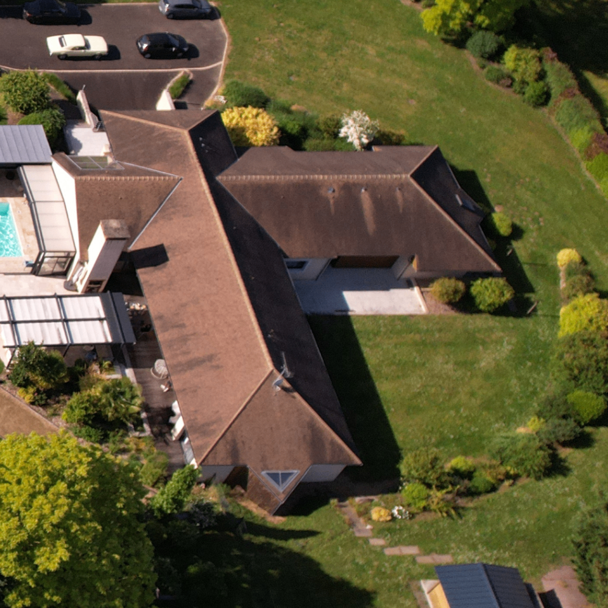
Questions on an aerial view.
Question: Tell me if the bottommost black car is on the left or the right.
left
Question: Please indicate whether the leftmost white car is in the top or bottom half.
top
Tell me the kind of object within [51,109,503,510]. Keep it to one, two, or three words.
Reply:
house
